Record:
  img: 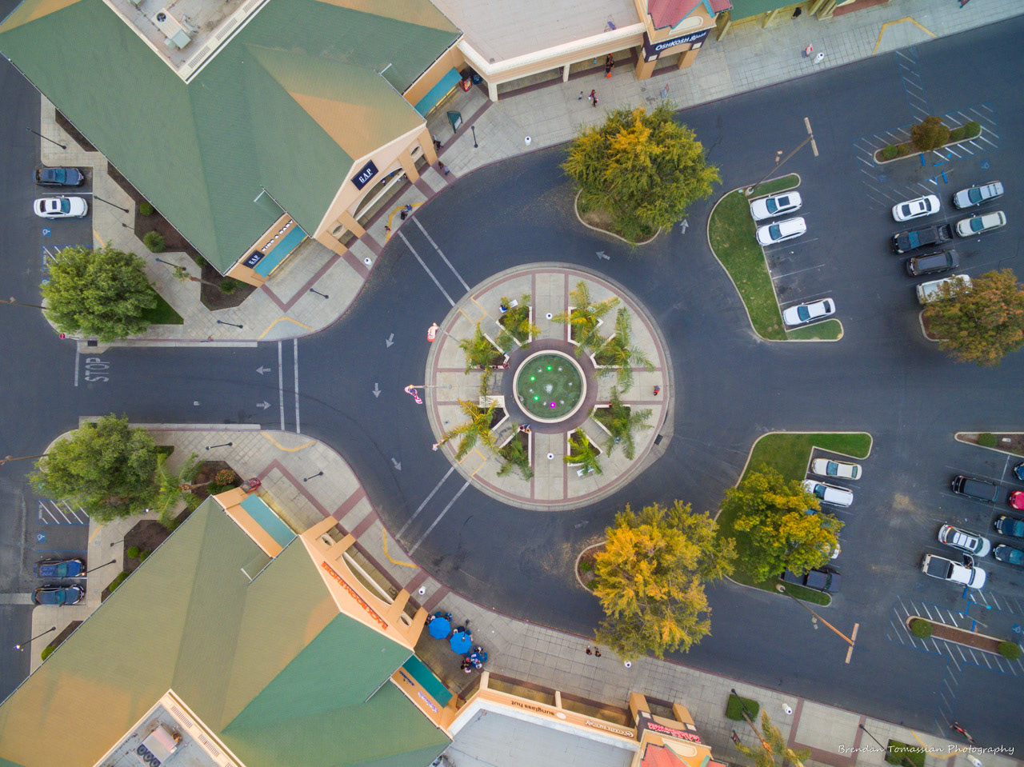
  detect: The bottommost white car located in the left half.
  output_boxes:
[36,196,92,221]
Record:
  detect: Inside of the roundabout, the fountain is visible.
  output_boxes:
[512,348,588,424]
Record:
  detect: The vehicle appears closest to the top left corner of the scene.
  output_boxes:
[32,164,88,191]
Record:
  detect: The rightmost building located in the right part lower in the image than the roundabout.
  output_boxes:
[629,694,724,767]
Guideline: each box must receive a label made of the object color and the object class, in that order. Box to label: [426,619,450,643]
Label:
blue umbrella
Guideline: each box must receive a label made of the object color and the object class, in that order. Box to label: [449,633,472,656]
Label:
blue umbrella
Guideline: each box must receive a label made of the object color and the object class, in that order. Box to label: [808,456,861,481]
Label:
white car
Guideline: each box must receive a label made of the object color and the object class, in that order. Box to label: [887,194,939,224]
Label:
white car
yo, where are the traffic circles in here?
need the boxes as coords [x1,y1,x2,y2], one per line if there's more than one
[426,263,674,510]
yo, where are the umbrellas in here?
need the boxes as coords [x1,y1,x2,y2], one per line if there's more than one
[449,633,472,656]
[426,619,450,643]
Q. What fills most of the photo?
paved ground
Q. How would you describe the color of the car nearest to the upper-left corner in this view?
blue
